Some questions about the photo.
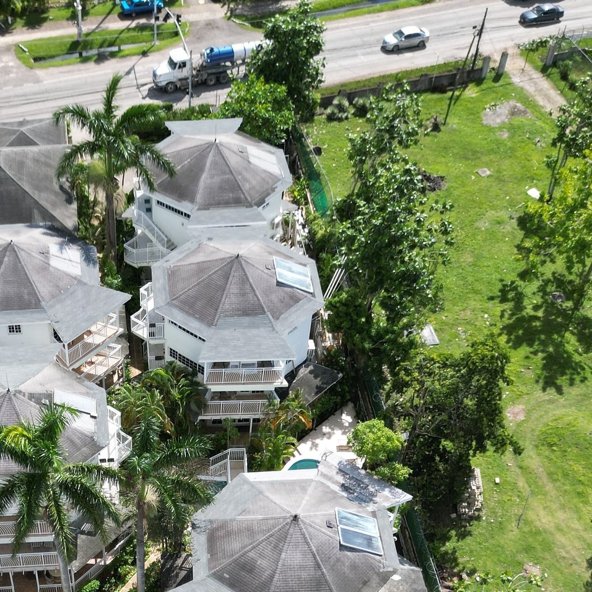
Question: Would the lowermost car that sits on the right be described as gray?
Yes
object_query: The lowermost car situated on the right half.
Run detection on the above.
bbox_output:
[383,28,431,53]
